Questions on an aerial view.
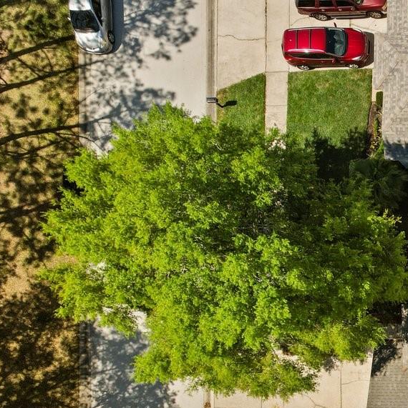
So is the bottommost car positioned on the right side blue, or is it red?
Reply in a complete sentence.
From above, the bottommost car positioned on the right side appears red.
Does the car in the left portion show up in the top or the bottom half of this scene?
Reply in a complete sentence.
The car in the left portion sits in the top half of the picture.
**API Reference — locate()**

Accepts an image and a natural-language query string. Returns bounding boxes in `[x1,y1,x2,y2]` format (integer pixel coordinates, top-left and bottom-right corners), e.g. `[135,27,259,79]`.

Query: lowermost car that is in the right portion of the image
[284,26,370,73]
